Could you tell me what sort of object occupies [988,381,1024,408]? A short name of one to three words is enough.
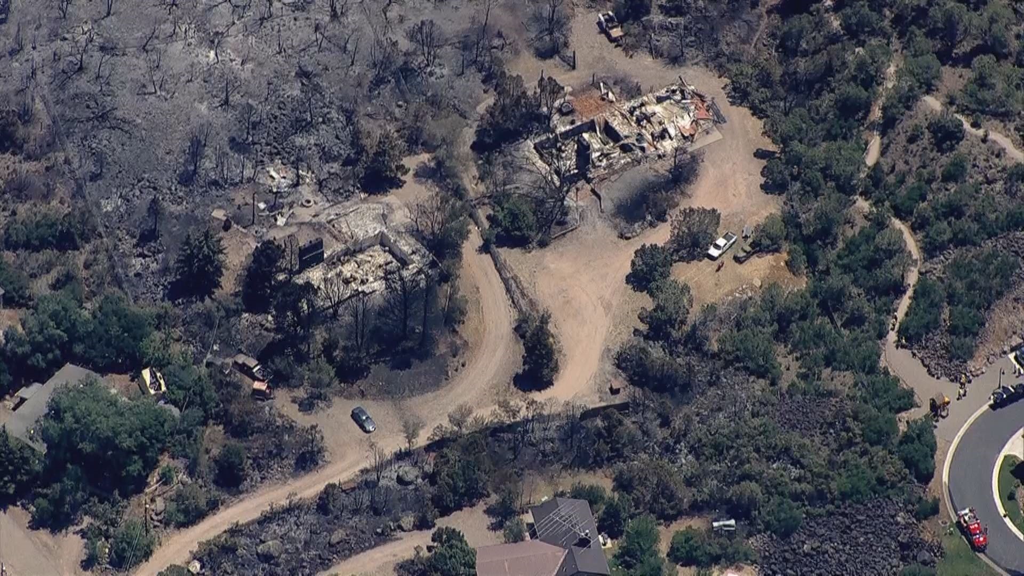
car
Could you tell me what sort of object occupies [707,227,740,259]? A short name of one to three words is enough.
truck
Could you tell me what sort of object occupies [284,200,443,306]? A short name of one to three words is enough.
house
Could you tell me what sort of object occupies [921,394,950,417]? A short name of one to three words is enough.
work vehicle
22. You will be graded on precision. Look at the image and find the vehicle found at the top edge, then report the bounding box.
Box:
[594,7,626,42]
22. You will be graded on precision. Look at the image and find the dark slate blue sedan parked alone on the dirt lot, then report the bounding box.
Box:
[349,403,378,431]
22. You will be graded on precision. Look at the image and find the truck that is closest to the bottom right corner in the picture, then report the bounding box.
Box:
[957,503,991,550]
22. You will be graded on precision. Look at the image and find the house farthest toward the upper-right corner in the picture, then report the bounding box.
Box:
[518,75,723,192]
